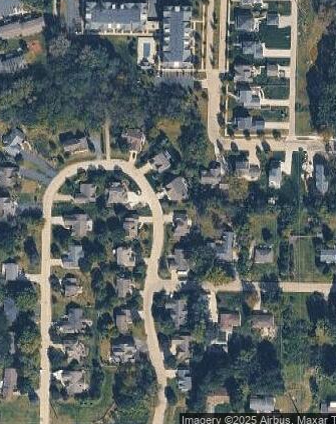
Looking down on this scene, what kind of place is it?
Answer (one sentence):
This looks like a residential area.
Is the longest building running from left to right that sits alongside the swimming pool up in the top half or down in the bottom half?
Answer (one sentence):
Seen from above, the longest building running from left to right that sits alongside the swimming pool lies in the top half of the view.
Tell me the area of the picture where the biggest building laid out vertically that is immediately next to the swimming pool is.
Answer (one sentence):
The biggest building laid out vertically that is immediately next to the swimming pool appears toward the top of the photo.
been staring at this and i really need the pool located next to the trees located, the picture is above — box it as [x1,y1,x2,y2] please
[138,36,155,64]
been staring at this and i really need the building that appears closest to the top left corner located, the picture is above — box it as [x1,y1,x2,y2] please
[0,16,47,39]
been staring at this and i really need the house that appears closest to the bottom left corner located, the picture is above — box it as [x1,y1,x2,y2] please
[2,367,19,400]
